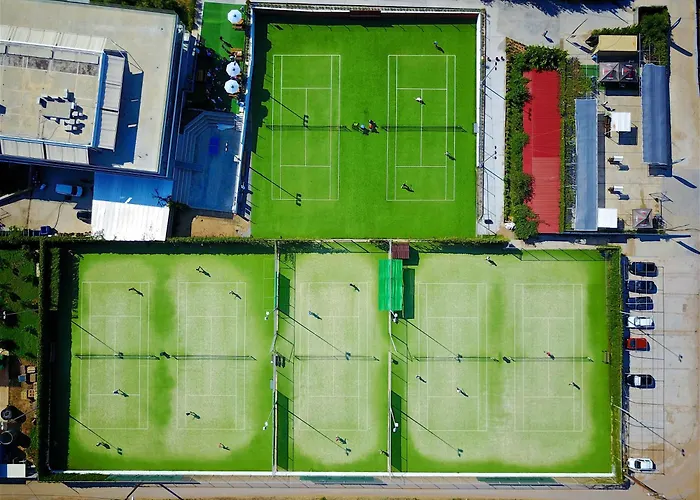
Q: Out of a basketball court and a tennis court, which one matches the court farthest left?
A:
tennis court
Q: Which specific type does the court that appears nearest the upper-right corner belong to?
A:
tennis court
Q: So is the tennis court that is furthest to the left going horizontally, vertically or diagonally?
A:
vertically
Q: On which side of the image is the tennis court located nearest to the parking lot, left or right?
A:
right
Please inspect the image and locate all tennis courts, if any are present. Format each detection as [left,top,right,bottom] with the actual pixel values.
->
[386,52,458,203]
[79,280,152,432]
[416,280,489,434]
[511,281,585,434]
[174,280,248,432]
[297,280,371,433]
[270,52,343,202]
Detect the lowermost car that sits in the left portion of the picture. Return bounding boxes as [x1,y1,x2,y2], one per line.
[72,210,95,224]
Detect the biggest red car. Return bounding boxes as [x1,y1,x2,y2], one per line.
[627,338,651,351]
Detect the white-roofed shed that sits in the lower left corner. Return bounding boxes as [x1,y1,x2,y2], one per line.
[8,460,31,477]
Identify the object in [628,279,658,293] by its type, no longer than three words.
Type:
vehicle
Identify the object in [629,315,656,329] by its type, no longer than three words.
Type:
vehicle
